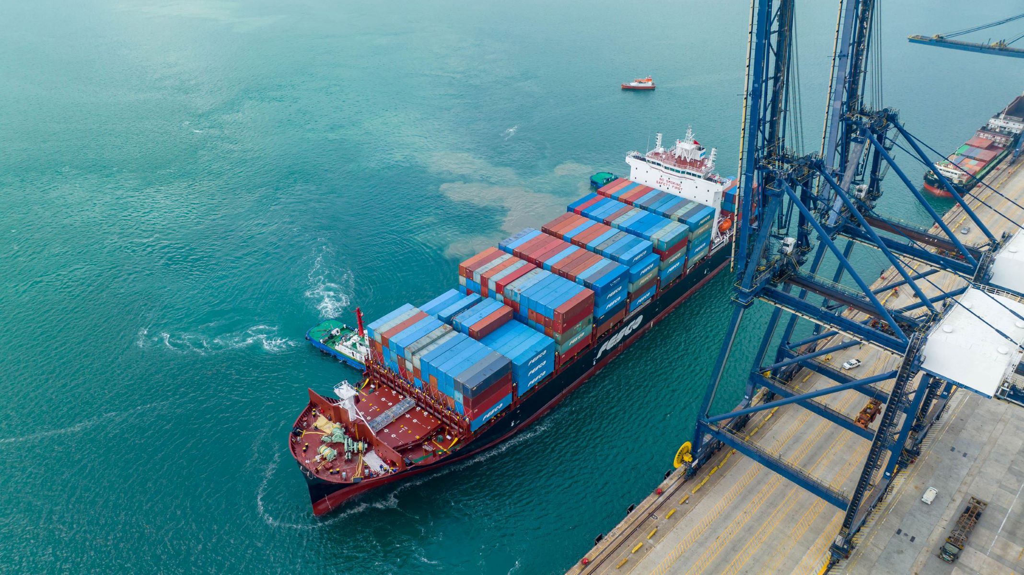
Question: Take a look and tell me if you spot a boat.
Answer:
Yes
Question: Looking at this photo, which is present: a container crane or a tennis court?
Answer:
container crane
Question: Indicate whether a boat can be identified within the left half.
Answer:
Yes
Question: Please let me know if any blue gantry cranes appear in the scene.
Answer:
Yes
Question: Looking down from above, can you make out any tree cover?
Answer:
No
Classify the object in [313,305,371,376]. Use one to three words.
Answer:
boat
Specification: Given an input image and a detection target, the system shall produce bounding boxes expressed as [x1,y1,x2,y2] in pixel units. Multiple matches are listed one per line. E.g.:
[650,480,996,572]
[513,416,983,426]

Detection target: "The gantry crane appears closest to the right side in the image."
[908,8,1024,60]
